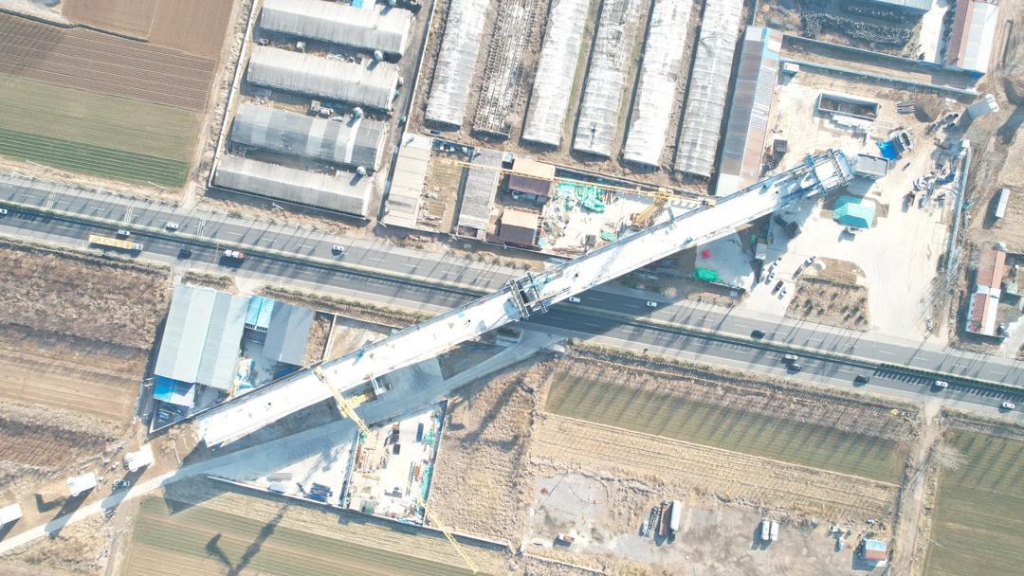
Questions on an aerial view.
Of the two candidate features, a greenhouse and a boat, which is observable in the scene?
greenhouse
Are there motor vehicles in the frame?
Yes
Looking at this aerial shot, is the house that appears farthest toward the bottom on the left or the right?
right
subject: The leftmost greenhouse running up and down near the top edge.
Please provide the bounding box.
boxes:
[425,0,489,127]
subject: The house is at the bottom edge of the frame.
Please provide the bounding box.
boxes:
[857,537,887,559]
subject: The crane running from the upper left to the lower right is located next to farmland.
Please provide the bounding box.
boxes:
[311,367,479,574]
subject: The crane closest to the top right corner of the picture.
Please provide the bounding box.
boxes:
[455,159,714,220]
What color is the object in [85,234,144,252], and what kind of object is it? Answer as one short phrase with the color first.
white vehicle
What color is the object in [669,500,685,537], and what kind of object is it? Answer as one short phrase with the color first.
white vehicle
